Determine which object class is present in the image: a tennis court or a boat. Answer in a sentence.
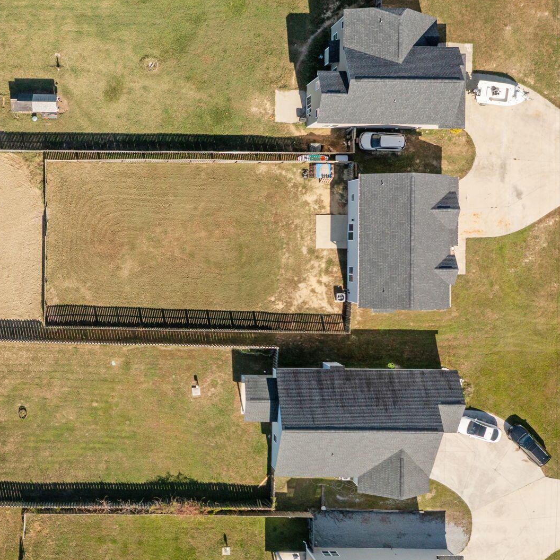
Looking from above, you can make out a boat.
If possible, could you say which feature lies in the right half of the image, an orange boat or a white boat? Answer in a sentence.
You can see a white boat in the right half of the image.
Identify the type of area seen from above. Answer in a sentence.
What you see here is a residential area.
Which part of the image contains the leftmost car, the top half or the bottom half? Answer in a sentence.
You can find the leftmost car in the top half.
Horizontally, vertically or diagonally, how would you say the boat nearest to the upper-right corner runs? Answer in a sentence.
Seen from above, the boat nearest to the upper-right corner lies horizontally.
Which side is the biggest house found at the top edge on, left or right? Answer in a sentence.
The biggest house found at the top edge is on the right side of the image.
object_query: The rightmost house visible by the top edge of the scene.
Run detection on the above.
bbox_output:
[305,7,466,130]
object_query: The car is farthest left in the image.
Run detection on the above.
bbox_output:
[358,129,406,152]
